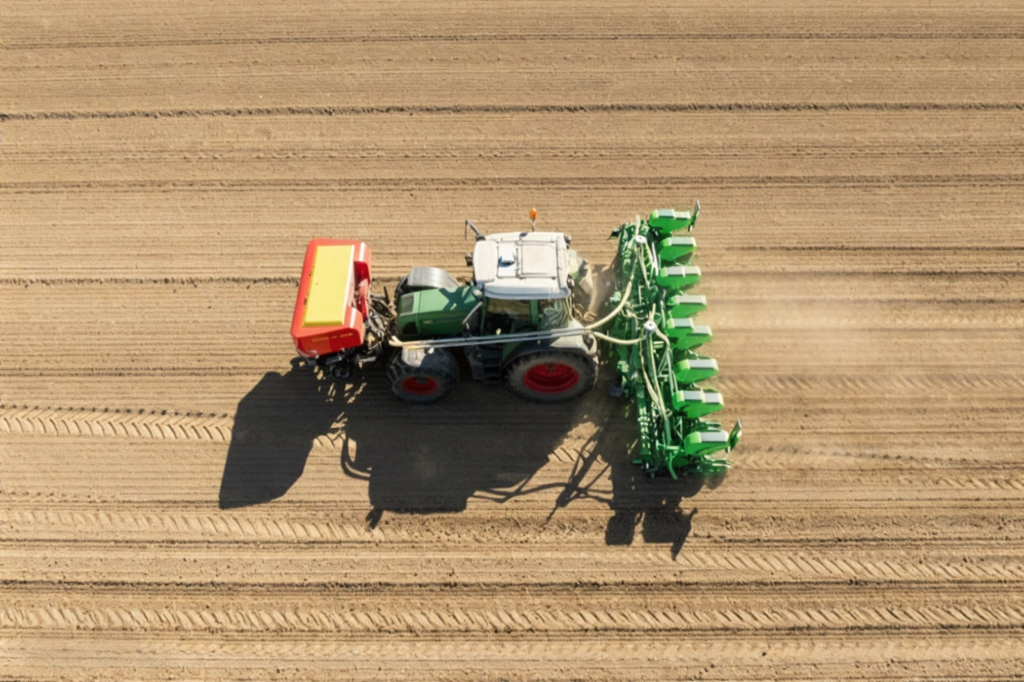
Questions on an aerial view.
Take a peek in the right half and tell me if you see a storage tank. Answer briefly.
No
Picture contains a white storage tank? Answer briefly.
No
